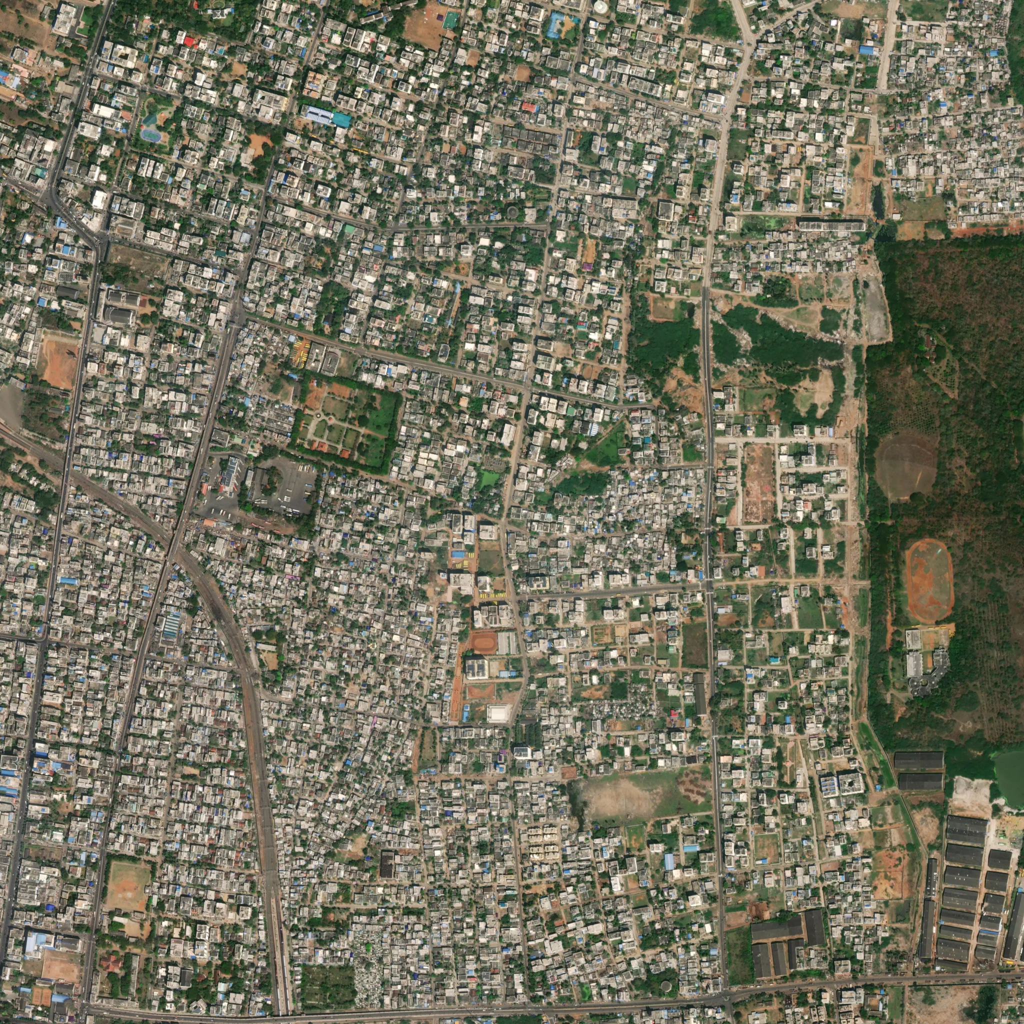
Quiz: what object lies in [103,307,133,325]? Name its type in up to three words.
building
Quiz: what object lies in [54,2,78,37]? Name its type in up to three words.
building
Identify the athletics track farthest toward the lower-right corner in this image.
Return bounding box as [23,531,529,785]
[906,539,955,623]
